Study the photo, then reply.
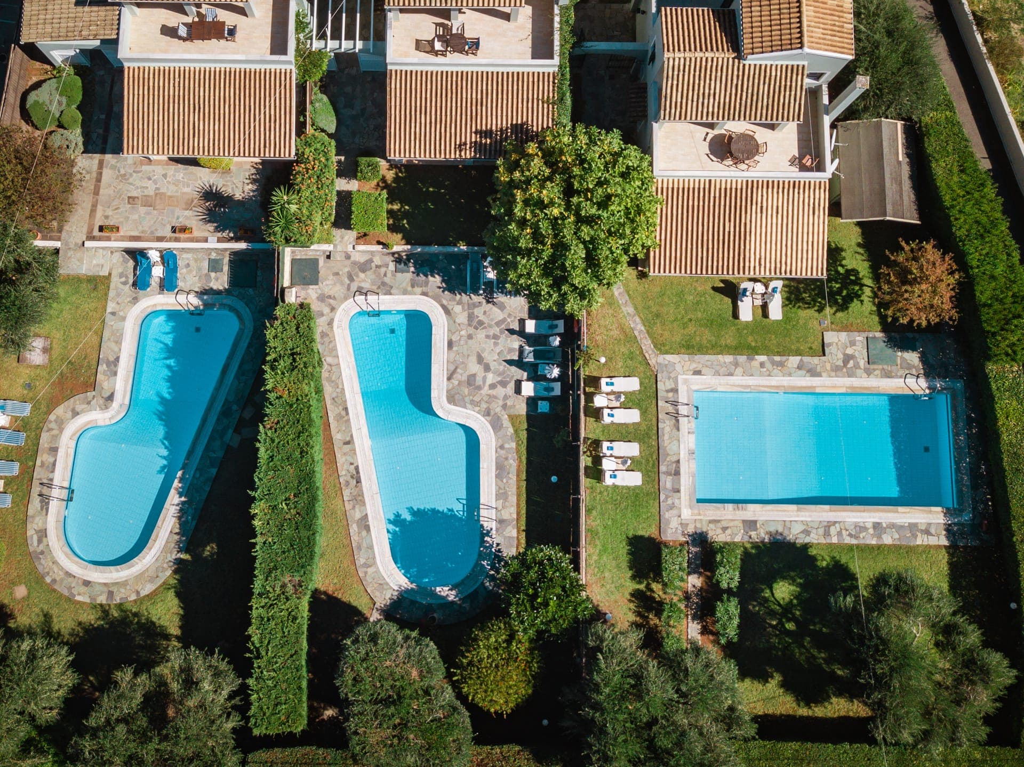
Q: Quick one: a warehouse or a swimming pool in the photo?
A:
swimming pool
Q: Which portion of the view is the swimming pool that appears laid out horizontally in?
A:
right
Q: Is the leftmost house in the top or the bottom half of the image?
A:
top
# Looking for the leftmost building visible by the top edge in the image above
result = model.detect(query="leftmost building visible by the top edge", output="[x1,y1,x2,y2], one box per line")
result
[19,0,306,162]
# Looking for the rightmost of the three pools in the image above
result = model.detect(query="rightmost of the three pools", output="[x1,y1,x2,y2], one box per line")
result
[678,375,972,521]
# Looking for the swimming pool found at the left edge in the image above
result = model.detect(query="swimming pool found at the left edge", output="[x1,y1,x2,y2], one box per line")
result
[47,293,254,581]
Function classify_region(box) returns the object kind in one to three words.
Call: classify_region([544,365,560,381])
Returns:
umbrella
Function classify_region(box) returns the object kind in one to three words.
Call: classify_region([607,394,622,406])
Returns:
umbrella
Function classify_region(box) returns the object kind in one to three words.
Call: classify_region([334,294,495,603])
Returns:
swimming pool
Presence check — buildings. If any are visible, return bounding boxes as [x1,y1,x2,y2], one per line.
[831,121,921,223]
[613,0,856,279]
[383,0,560,165]
[19,0,306,162]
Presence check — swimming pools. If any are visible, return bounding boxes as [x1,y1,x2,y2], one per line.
[334,294,495,603]
[47,293,254,581]
[678,375,972,521]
